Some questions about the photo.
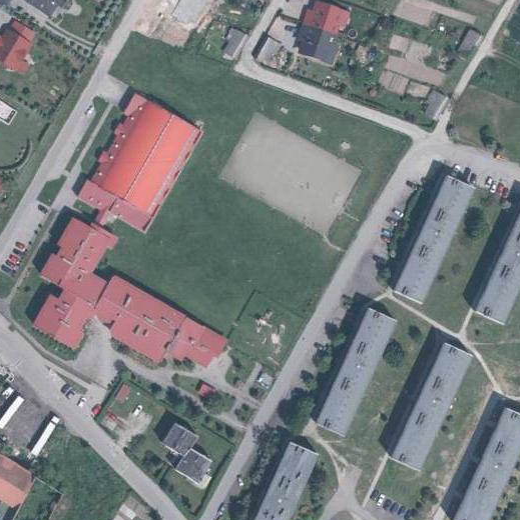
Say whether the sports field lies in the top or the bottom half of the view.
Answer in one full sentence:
The sports field sits in the top half of the picture.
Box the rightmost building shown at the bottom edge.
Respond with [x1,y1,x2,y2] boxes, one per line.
[452,409,520,520]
